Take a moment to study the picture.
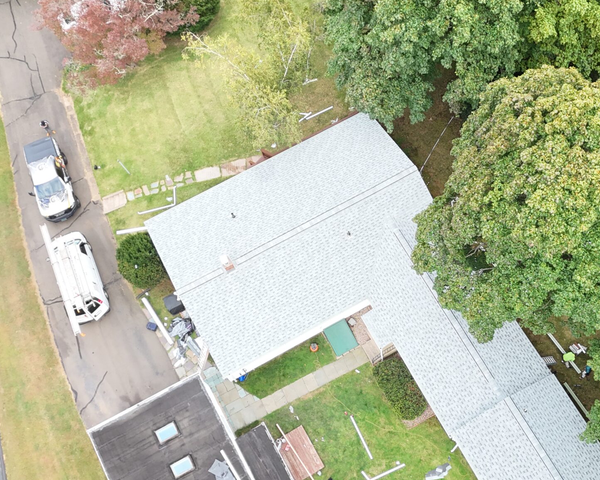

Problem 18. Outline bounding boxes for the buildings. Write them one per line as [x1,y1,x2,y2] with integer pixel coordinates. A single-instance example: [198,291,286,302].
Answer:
[144,110,600,480]
[85,373,252,480]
